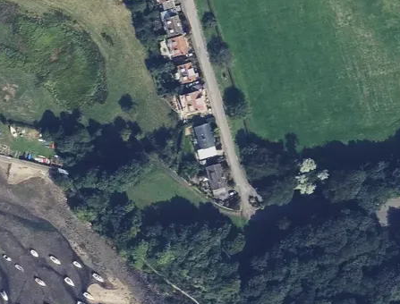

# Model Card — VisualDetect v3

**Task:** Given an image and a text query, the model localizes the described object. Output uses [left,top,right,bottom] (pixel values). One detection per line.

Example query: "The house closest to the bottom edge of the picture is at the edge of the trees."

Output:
[203,162,226,197]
